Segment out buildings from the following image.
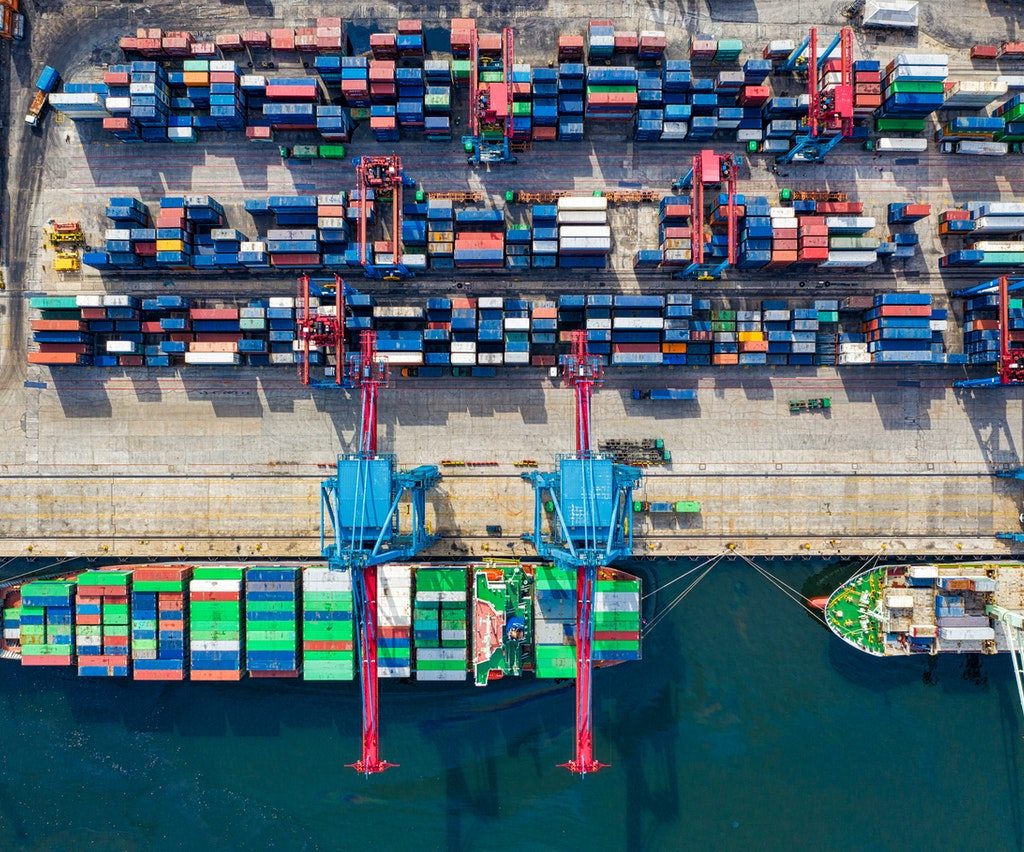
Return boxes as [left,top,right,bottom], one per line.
[861,0,919,28]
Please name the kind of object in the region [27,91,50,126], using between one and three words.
truck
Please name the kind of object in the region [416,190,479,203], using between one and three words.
vehicle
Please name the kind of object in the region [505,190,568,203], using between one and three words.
vehicle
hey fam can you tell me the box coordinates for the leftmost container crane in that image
[299,274,363,388]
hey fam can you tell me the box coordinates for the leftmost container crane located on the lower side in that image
[323,332,444,781]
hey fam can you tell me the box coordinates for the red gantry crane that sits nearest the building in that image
[778,27,852,160]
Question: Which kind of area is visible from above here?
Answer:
port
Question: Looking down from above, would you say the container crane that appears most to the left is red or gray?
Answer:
red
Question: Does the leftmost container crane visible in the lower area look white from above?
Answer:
No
